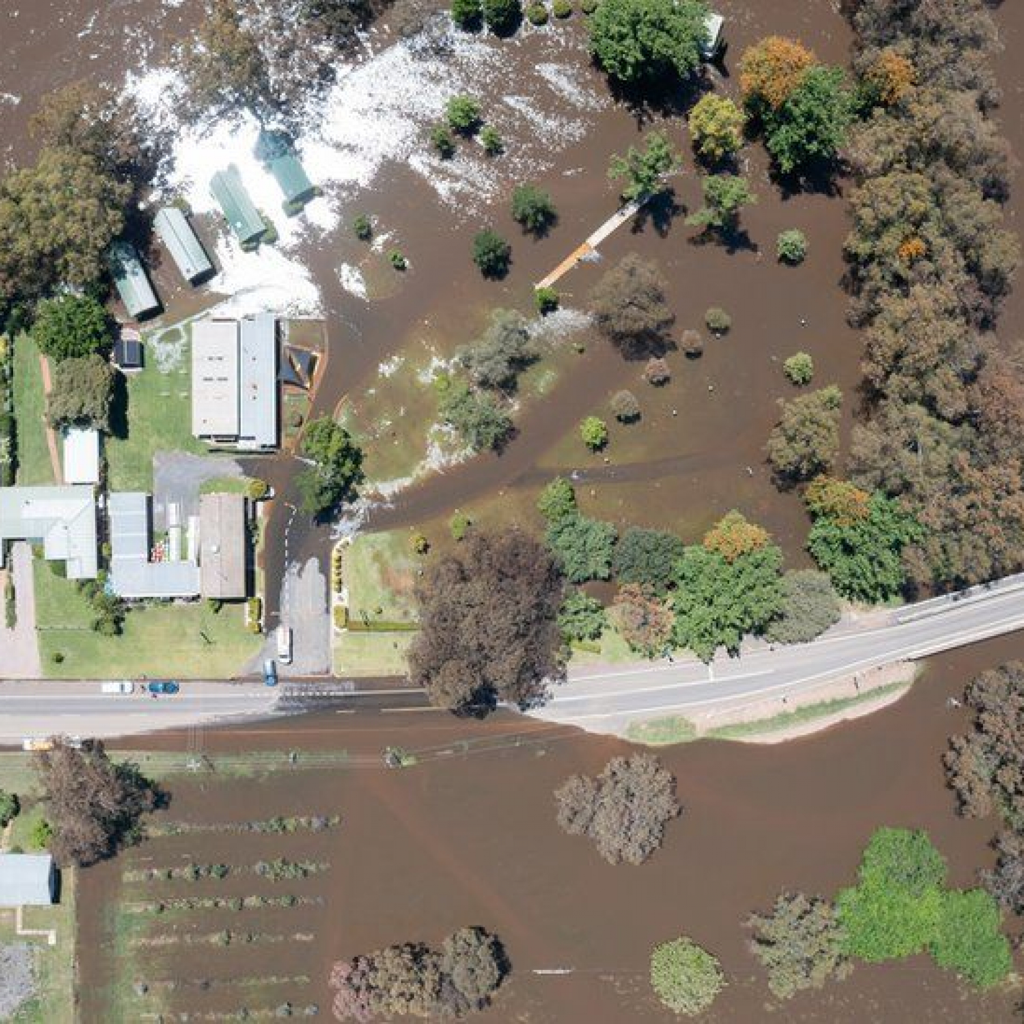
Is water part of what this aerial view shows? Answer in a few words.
Yes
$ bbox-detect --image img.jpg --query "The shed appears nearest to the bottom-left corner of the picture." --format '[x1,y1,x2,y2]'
[0,851,57,904]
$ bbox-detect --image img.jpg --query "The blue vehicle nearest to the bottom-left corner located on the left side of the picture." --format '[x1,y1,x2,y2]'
[149,681,178,694]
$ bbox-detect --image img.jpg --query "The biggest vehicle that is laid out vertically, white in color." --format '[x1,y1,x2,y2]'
[277,626,291,662]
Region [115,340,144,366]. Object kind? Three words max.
shed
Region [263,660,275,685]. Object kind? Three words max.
vehicle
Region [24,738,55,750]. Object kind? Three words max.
vehicle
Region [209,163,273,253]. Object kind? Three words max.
building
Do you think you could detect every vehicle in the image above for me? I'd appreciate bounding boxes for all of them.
[100,681,134,693]
[24,738,55,750]
[277,626,291,662]
[149,681,178,694]
[263,660,275,685]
